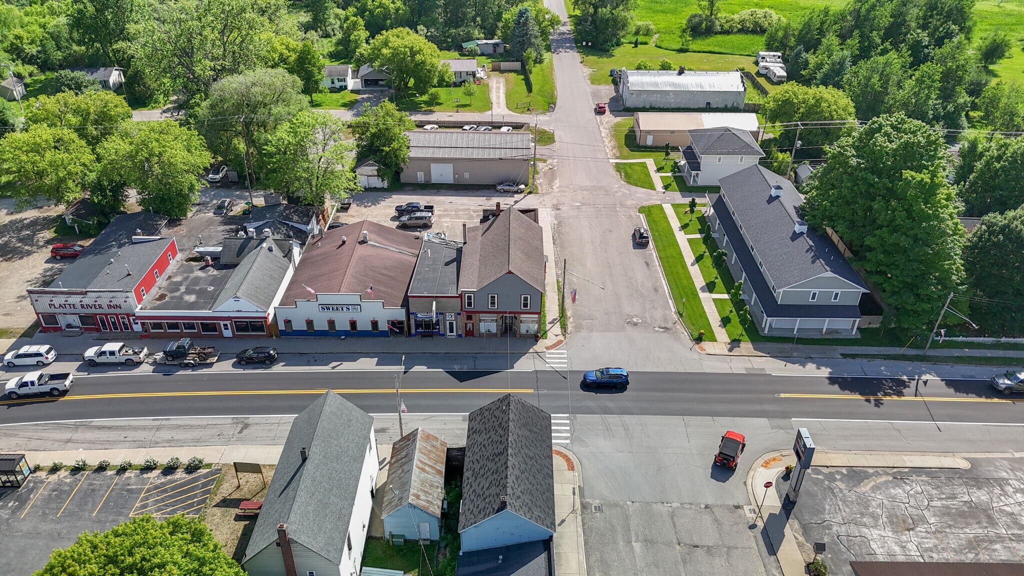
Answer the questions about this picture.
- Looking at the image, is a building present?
Yes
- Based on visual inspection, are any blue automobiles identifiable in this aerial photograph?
Yes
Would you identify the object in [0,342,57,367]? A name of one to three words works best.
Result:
car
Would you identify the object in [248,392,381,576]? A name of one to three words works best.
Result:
building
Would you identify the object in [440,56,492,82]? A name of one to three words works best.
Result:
house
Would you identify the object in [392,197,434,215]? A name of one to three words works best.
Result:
vehicle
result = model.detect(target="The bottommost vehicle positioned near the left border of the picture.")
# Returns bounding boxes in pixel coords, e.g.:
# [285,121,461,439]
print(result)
[0,369,74,399]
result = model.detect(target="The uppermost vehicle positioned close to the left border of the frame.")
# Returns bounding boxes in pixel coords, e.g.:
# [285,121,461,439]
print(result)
[49,240,90,259]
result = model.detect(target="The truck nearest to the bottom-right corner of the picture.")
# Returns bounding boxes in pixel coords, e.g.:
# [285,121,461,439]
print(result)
[989,367,1024,391]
